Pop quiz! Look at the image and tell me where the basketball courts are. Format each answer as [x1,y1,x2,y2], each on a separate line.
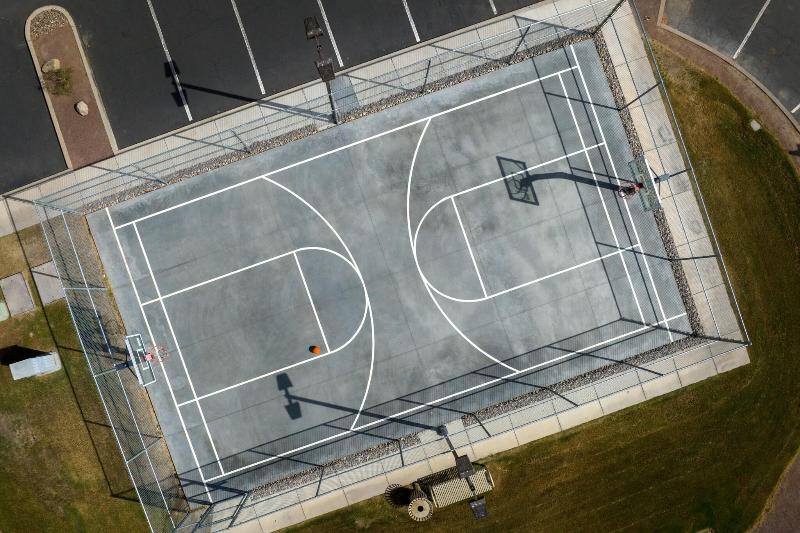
[84,38,694,511]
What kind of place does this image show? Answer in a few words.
sports ground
